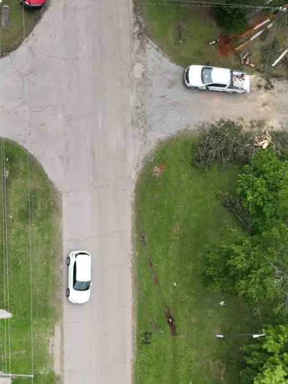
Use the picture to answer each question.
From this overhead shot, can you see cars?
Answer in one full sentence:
Yes, there's a car down there.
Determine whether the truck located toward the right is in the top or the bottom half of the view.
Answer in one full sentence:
Seen from above, the truck located toward the right lies in the top half of the view.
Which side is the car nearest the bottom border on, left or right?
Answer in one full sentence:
It is on the left.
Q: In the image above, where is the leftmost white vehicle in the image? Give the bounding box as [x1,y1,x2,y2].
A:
[65,250,93,304]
